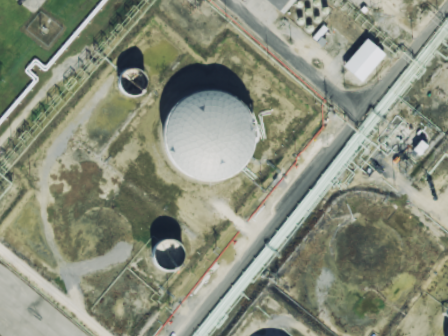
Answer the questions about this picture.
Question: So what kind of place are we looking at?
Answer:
industrial area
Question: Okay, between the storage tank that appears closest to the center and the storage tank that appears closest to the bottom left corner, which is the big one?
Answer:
the storage tank that appears closest to the center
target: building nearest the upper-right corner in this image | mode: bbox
[344,38,387,82]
